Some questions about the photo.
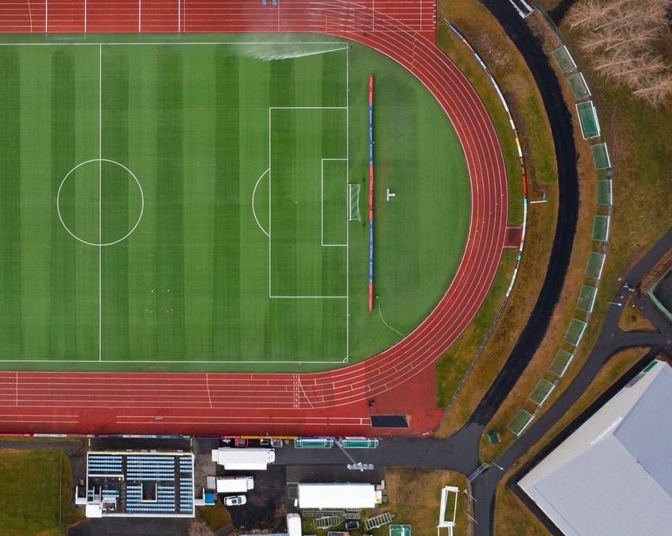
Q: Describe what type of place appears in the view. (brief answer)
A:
sports ground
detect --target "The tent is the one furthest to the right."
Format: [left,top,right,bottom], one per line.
[295,480,381,508]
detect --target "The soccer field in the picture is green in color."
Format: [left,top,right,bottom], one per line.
[0,31,472,374]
